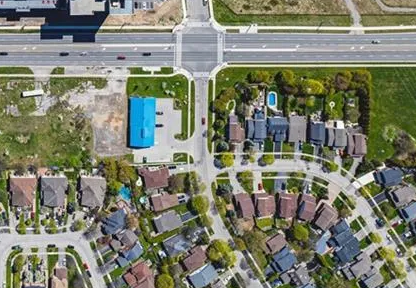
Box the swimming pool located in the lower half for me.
[119,185,132,202]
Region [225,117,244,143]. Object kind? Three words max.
house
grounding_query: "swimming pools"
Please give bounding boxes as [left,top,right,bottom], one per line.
[269,92,276,107]
[119,185,132,202]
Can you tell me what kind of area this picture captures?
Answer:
residential area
